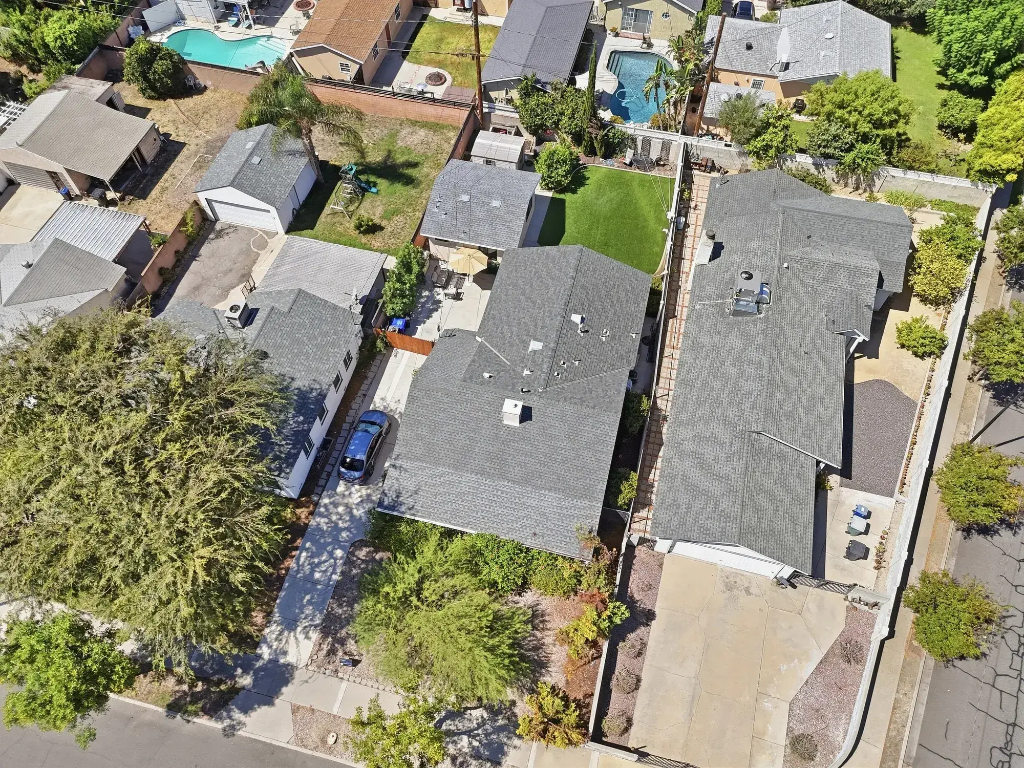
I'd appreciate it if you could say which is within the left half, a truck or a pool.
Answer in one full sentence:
There is a pool within the left half.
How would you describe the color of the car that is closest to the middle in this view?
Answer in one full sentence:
The car that is closest to the middle looks blue in the image.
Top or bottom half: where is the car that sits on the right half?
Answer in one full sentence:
The car that sits on the right half sits in the top half of the picture.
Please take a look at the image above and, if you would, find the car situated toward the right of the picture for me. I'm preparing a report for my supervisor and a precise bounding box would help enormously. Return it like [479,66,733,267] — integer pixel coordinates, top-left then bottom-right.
[730,0,754,21]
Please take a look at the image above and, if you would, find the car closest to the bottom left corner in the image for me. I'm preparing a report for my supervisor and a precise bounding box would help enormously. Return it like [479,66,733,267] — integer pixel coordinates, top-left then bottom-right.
[335,409,387,484]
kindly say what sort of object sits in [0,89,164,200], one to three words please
building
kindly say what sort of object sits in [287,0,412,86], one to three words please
house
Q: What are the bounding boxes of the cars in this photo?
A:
[335,409,387,484]
[730,0,754,21]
